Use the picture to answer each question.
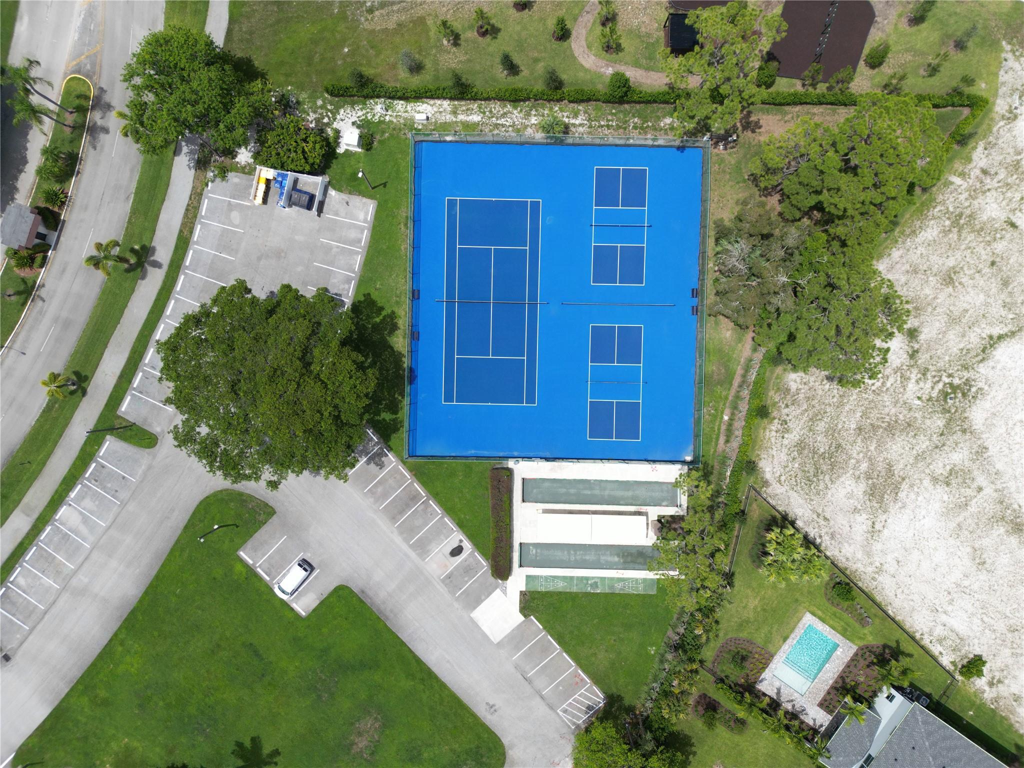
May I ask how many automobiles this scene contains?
1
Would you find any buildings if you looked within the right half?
Yes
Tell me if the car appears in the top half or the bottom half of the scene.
bottom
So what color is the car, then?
white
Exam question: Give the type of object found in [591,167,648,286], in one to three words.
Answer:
sports court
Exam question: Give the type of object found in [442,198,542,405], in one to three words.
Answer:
tennis court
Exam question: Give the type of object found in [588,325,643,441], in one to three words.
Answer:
sports court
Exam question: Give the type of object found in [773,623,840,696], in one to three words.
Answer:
swimming pool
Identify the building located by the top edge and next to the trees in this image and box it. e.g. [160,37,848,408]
[663,14,702,60]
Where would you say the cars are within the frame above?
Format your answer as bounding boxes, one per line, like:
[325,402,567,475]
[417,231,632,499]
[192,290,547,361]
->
[275,559,313,599]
